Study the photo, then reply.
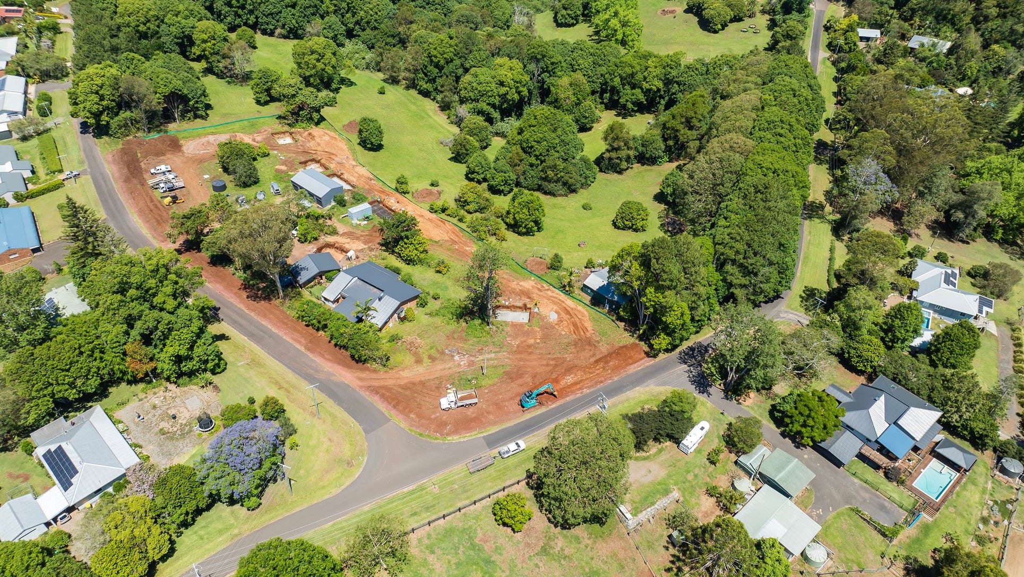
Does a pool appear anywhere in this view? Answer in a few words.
Yes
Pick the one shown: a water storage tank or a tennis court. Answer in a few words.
water storage tank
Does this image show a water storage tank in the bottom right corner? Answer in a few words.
Yes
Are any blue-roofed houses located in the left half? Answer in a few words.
Yes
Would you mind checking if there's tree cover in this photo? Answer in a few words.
Yes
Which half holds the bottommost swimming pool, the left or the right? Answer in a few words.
right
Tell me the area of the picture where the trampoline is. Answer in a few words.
bottom left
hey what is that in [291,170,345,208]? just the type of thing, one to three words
shed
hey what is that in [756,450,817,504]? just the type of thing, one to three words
building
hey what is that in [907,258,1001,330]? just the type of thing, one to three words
house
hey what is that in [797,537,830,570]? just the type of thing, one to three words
water tank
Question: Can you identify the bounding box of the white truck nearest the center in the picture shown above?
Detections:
[438,389,479,411]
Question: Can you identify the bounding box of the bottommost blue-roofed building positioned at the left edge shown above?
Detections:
[0,206,43,266]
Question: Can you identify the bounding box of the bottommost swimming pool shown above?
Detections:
[913,459,959,501]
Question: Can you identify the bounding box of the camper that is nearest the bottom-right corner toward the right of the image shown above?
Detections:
[680,414,710,450]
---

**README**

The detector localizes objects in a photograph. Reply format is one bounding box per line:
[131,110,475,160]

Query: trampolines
[193,411,214,431]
